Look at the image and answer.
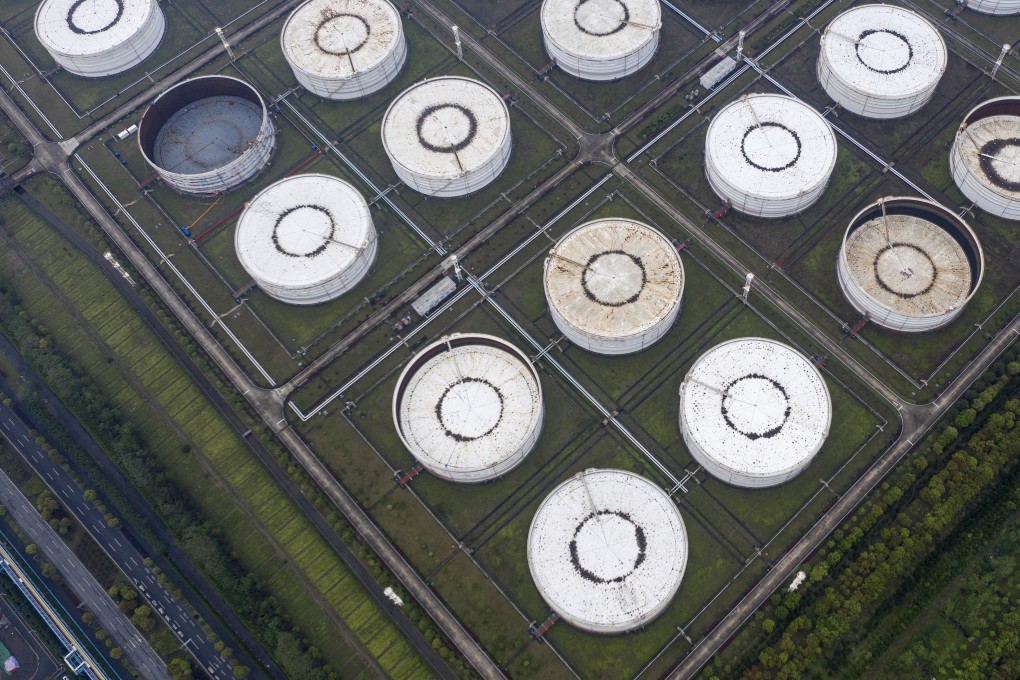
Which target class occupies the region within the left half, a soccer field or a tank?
tank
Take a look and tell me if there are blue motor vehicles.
Yes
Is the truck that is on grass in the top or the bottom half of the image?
top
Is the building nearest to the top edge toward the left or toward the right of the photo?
right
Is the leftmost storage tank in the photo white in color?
Yes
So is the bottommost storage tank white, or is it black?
white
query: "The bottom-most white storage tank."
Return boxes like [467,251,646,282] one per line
[526,468,690,640]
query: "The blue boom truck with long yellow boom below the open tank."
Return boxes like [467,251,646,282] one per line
[181,194,224,235]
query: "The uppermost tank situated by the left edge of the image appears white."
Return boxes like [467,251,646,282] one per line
[33,0,168,78]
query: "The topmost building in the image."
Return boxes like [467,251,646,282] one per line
[699,56,736,89]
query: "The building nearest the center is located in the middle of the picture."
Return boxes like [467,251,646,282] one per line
[411,276,456,316]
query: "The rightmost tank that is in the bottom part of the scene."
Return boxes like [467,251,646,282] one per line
[675,336,833,492]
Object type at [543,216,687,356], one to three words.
storage tank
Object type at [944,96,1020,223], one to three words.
storage tank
